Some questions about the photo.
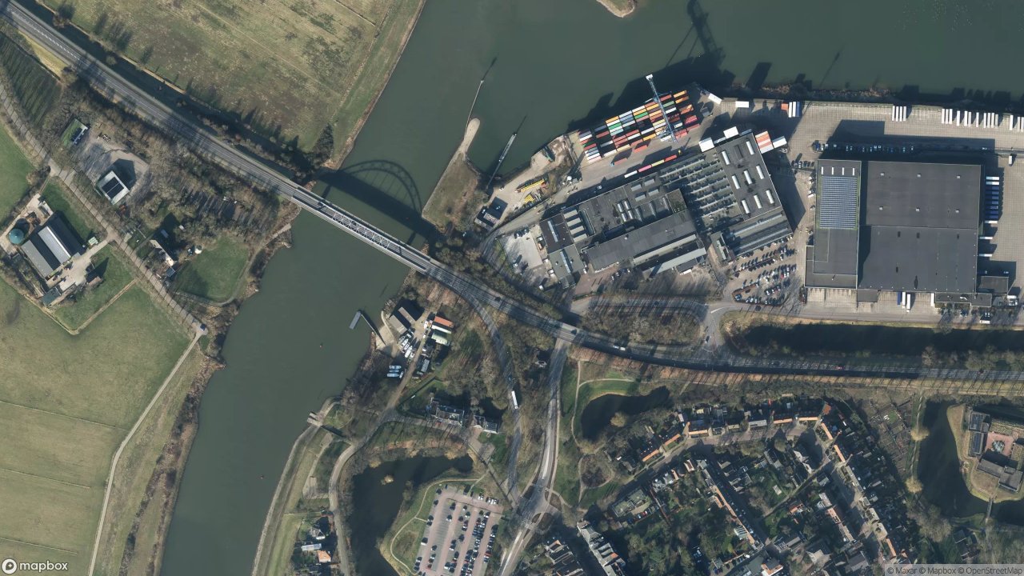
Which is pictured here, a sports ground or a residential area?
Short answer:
residential area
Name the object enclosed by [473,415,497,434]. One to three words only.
house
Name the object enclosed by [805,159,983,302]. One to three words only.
warehouse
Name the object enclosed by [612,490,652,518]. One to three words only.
building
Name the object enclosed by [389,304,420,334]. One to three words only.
shed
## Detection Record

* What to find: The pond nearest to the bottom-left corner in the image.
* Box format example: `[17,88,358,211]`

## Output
[349,454,472,576]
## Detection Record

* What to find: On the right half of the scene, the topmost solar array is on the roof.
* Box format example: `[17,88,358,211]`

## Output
[821,176,858,228]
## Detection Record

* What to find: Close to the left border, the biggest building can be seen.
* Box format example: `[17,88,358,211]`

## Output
[21,219,81,278]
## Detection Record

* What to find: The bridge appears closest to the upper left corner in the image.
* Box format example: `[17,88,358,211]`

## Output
[296,185,436,275]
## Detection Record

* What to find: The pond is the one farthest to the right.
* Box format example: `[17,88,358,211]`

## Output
[581,386,669,439]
